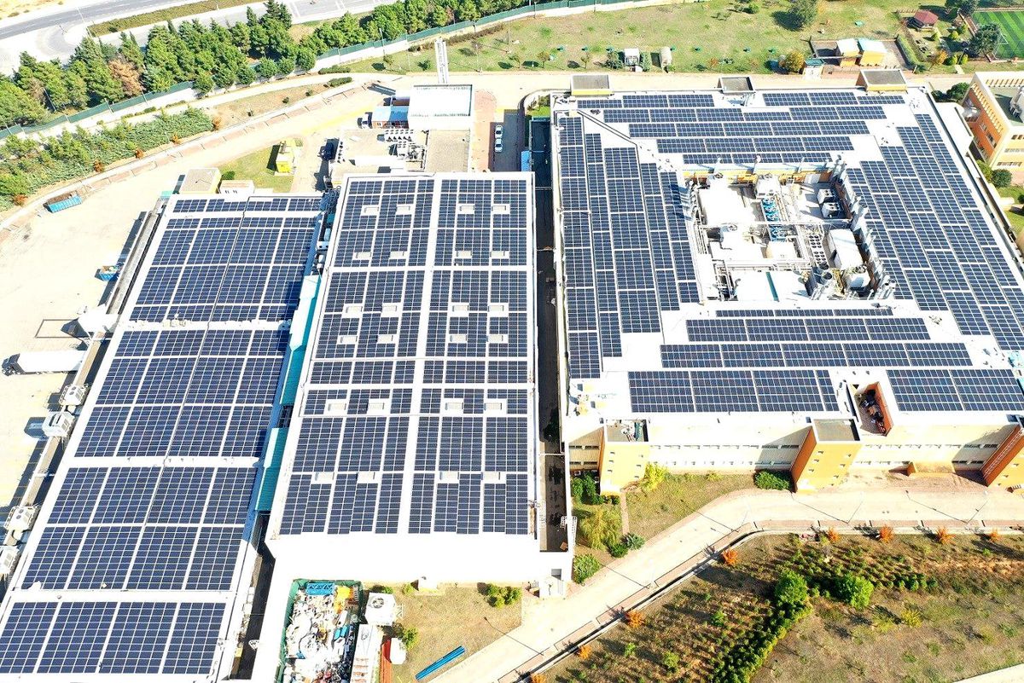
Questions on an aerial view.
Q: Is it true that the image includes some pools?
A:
No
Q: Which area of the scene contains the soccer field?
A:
top right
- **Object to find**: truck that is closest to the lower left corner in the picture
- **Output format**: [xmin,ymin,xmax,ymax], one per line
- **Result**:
[5,352,85,376]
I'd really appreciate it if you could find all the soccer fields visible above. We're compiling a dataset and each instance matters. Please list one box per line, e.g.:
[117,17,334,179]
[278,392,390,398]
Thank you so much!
[974,10,1024,59]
